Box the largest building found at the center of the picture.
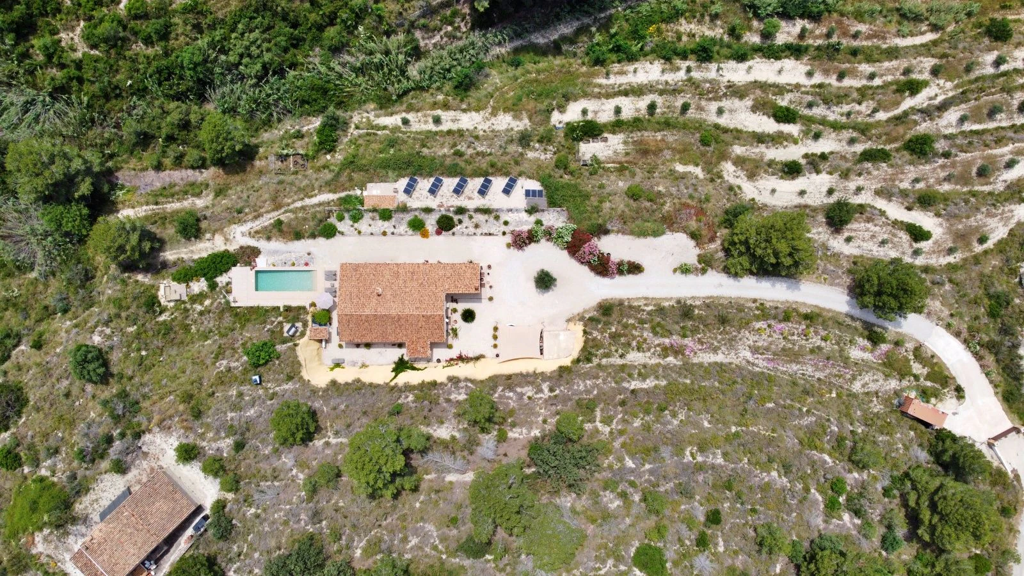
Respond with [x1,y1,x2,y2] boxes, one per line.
[337,263,480,358]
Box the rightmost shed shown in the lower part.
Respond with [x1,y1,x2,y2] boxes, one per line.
[893,394,948,428]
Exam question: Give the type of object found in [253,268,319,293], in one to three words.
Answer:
swimming pool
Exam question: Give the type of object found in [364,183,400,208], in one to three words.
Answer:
shed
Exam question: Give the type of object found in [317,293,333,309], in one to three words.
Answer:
umbrella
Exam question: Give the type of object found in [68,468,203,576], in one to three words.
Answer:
house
